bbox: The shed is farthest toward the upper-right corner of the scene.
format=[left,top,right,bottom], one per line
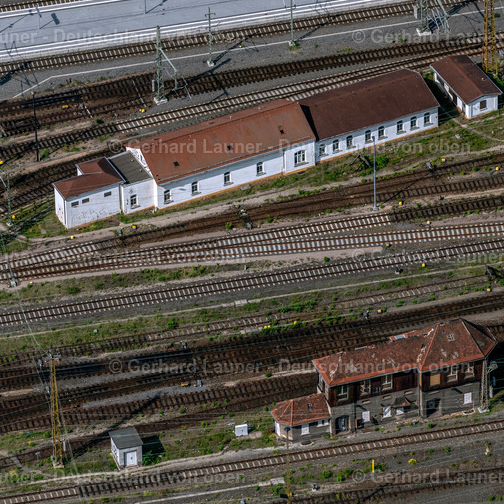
[426,55,504,118]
